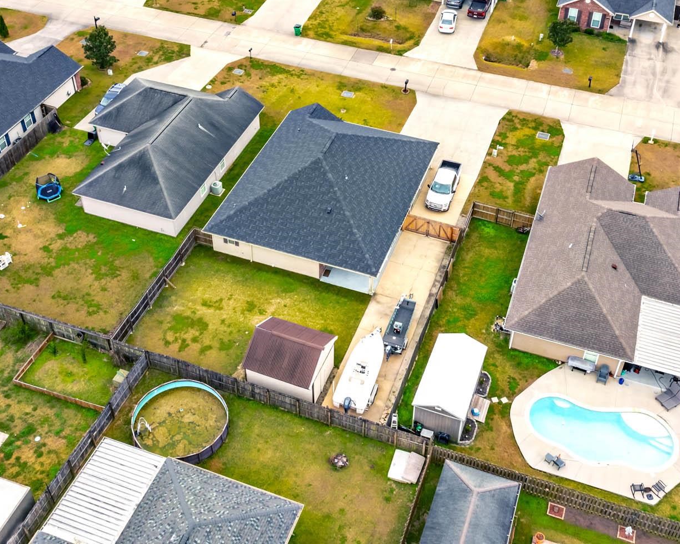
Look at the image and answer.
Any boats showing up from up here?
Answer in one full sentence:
Yes, this view includes a boat.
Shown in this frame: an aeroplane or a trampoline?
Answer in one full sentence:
There is a trampoline in the scene.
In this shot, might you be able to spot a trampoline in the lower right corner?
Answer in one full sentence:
No, I can find no trampoline in the lower right corner.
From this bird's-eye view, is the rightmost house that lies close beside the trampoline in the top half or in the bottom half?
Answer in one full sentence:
The rightmost house that lies close beside the trampoline sits in the top half of the picture.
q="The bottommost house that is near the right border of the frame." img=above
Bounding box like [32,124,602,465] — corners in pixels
[503,158,680,392]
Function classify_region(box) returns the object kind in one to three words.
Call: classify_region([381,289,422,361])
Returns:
boat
